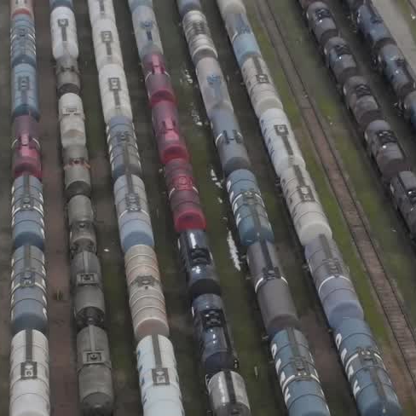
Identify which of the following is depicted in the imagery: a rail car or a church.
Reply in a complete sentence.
It is a rail car that can be seen here.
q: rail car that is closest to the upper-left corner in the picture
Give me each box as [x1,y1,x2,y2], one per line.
[12,0,39,22]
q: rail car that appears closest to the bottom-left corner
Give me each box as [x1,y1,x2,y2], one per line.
[9,329,54,416]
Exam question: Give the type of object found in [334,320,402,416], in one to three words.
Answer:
rail car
